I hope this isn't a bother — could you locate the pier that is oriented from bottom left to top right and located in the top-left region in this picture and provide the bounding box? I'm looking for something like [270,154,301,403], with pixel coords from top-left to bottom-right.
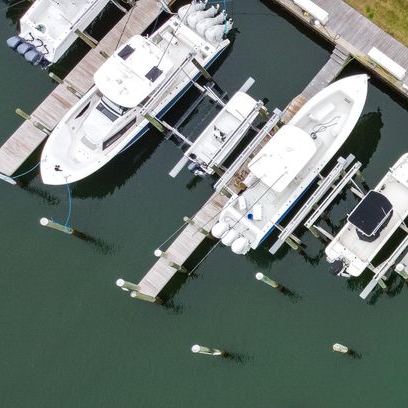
[0,0,176,175]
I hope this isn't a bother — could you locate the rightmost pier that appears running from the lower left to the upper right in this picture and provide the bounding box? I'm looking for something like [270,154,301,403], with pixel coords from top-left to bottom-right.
[117,39,355,302]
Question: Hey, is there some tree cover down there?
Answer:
No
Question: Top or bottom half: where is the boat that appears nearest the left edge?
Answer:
top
